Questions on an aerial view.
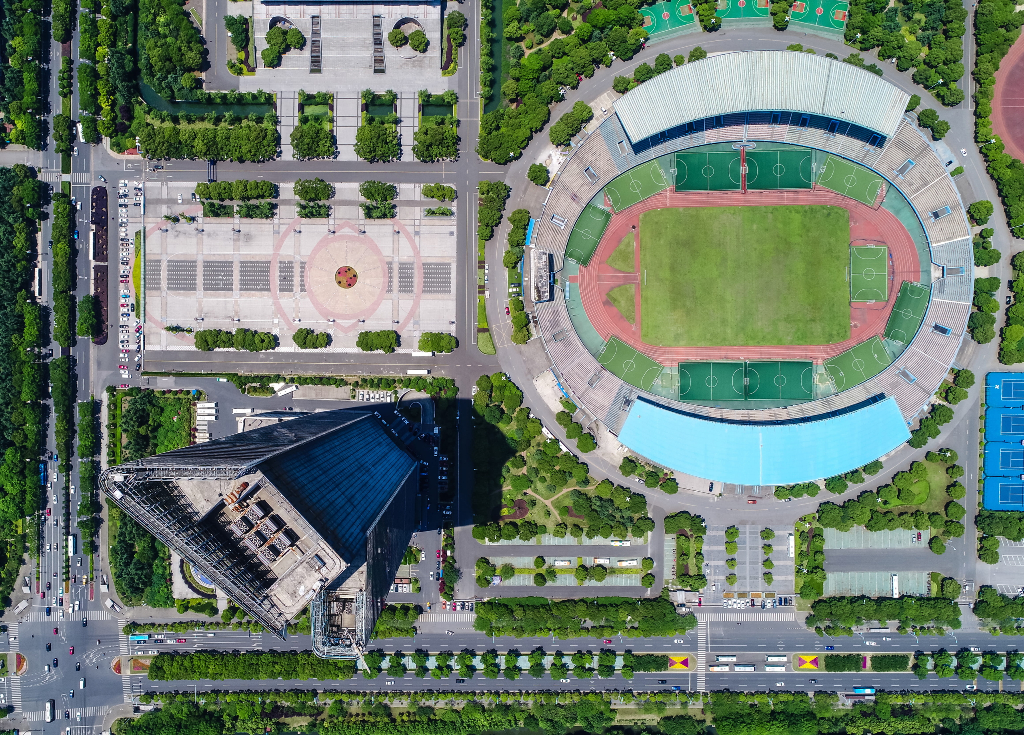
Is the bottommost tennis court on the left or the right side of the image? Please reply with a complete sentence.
You can find the bottommost tennis court on the right side of the picture.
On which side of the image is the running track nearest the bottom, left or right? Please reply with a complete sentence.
You can find the running track nearest the bottom on the right side of the picture.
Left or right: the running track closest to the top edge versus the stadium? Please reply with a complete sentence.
The running track closest to the top edge appears to the right of the stadium in this view.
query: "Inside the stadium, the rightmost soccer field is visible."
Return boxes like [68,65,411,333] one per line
[640,205,850,346]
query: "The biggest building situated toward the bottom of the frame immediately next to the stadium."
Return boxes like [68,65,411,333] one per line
[98,408,417,661]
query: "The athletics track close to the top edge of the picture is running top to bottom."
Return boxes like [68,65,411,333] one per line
[991,35,1024,157]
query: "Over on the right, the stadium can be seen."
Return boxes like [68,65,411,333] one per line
[522,49,975,487]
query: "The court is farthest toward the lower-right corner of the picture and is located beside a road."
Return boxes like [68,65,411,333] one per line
[983,477,1024,511]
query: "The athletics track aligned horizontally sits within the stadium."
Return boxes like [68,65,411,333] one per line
[569,184,920,359]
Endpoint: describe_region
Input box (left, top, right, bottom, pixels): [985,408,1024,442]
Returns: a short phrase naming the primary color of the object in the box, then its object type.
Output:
blue tennis court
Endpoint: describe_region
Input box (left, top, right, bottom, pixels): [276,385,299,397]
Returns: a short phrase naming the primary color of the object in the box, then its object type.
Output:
white vehicle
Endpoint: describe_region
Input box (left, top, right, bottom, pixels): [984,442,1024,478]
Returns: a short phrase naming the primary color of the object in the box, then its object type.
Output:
blue tennis court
